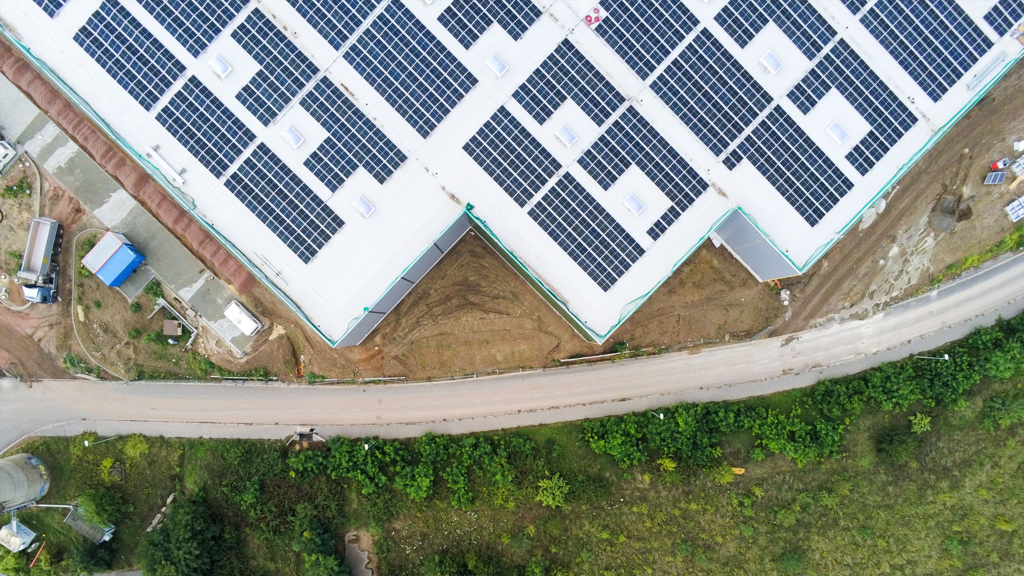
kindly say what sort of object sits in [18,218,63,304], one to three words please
truck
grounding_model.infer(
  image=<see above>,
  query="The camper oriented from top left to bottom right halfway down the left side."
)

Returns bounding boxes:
[226,303,262,336]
